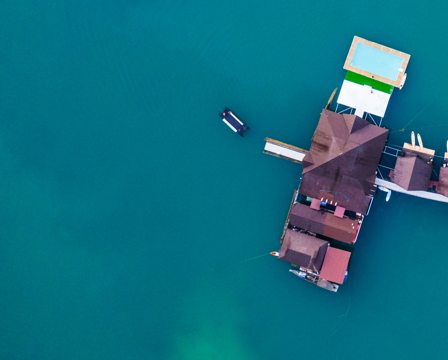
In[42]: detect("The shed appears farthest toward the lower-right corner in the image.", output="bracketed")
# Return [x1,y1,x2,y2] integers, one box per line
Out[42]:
[320,246,351,284]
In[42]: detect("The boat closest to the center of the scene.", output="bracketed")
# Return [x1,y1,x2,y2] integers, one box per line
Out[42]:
[218,106,250,137]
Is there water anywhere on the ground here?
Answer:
Yes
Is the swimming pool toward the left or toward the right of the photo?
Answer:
right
